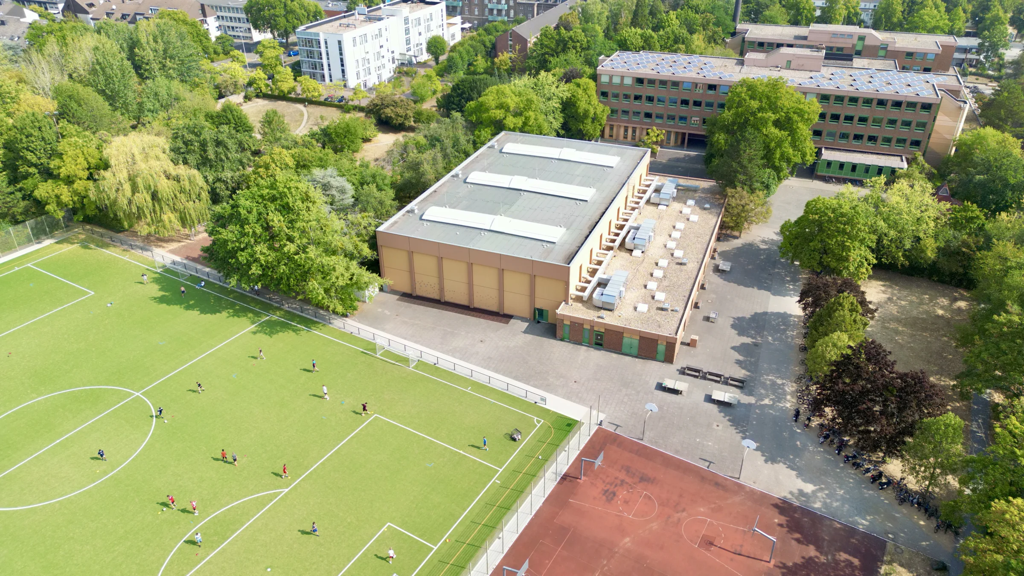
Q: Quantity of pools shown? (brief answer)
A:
0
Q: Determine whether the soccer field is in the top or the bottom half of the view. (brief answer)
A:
bottom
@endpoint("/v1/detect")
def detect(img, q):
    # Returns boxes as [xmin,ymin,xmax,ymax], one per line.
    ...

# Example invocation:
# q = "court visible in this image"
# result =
[490,426,888,576]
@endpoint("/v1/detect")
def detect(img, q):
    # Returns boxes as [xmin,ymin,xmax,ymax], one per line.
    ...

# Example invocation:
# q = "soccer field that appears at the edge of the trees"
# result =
[0,232,580,576]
